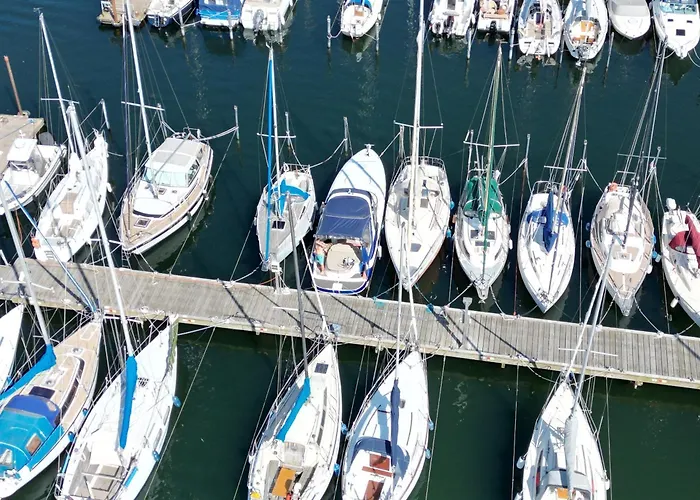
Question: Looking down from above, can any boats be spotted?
Yes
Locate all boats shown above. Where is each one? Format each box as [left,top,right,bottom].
[604,0,648,41]
[0,272,26,400]
[247,174,343,500]
[647,0,699,61]
[256,33,317,270]
[53,85,187,500]
[340,207,429,500]
[0,174,106,500]
[121,0,218,256]
[522,225,614,500]
[385,0,449,293]
[514,0,558,58]
[243,0,292,34]
[429,0,472,40]
[455,25,518,295]
[341,0,384,42]
[200,0,244,29]
[312,140,390,299]
[660,176,700,317]
[589,31,665,318]
[562,0,607,67]
[146,0,198,27]
[31,0,109,266]
[0,129,67,222]
[516,52,584,311]
[474,0,512,34]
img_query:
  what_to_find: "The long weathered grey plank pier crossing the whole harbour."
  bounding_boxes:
[0,259,700,388]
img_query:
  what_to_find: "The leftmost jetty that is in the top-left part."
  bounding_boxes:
[0,116,47,149]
